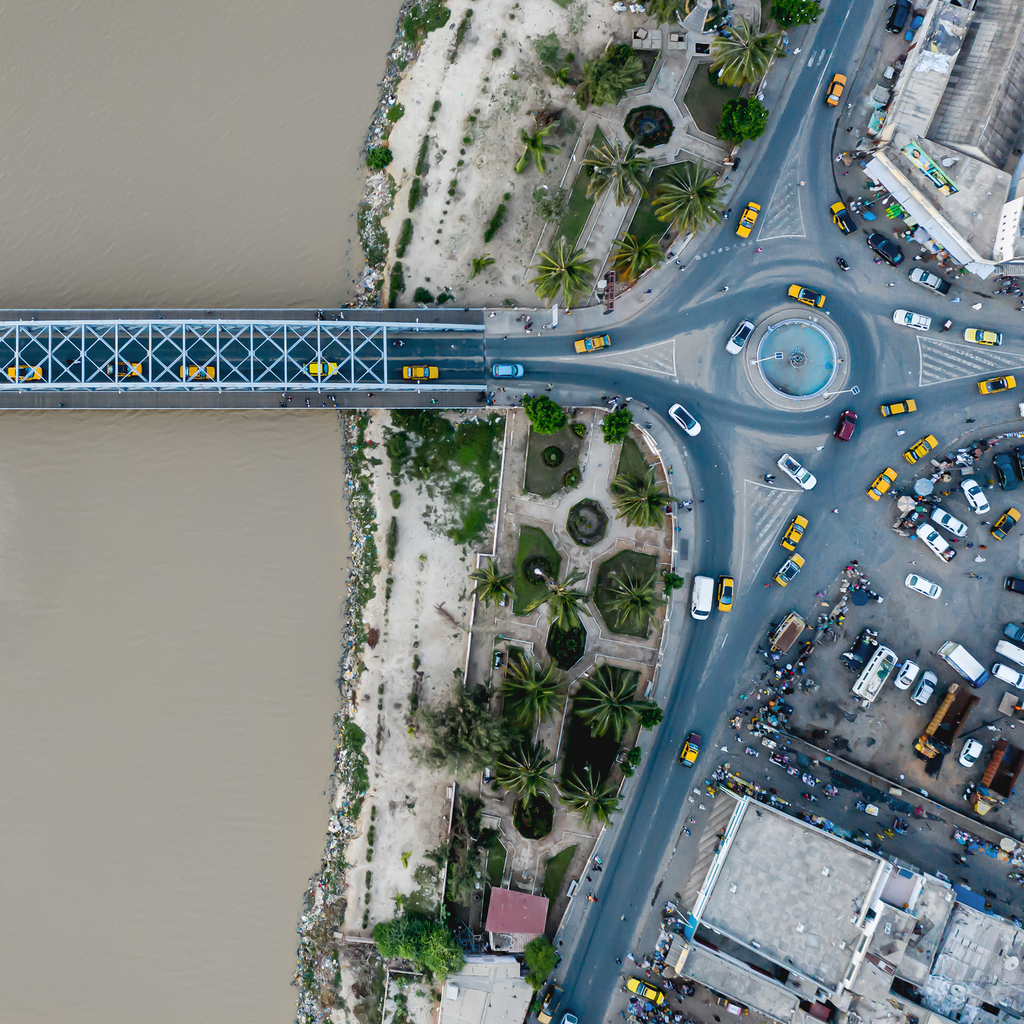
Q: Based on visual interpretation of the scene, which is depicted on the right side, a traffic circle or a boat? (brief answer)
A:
traffic circle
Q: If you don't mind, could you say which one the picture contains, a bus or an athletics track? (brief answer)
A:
bus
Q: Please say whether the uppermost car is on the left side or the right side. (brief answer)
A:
right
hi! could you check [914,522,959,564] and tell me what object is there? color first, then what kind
white truck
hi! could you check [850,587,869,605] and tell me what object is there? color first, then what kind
blue umbrella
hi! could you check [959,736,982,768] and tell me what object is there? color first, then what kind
white car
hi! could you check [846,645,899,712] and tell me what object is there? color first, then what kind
white bus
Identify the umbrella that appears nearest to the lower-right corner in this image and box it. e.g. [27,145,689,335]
[999,836,1016,852]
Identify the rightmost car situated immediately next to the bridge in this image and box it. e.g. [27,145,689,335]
[491,362,524,378]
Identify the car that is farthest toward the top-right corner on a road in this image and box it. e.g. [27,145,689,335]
[886,0,916,37]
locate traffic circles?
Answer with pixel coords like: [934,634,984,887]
[747,307,850,410]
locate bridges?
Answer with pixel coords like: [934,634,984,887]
[0,307,486,410]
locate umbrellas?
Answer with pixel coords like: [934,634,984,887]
[779,701,795,717]
[850,587,869,605]
[662,966,677,980]
[999,836,1016,852]
[914,477,933,497]
[897,495,916,513]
